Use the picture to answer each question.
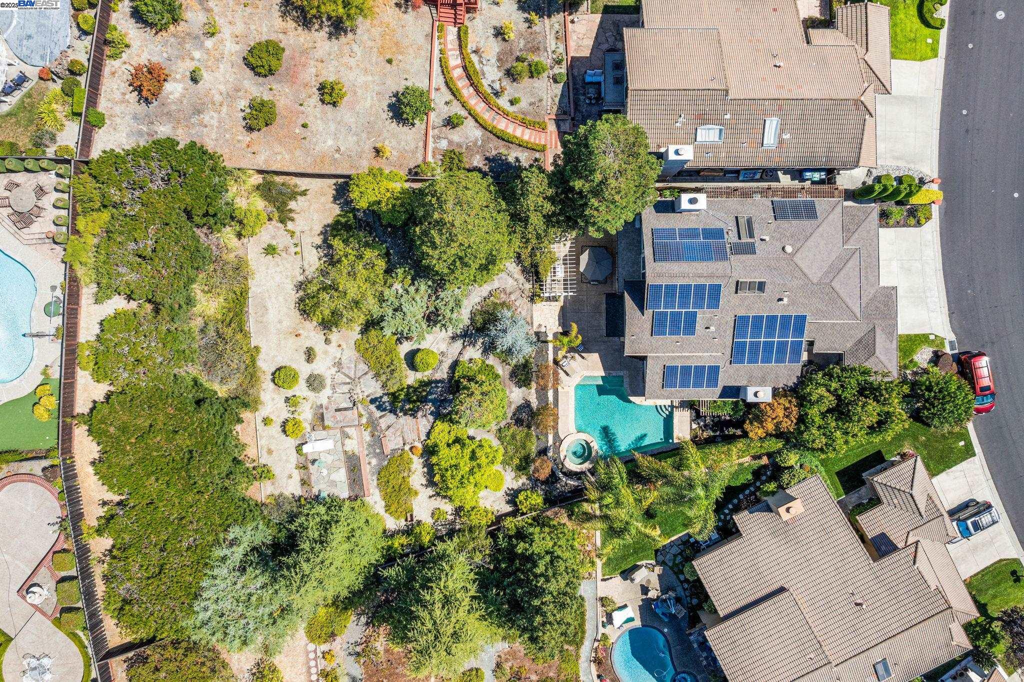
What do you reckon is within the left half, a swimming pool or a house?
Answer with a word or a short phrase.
swimming pool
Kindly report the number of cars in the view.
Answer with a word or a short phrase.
2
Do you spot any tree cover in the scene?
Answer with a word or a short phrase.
Yes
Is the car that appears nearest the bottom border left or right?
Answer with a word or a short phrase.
right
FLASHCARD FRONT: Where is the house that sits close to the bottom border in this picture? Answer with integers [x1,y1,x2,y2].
[687,454,981,682]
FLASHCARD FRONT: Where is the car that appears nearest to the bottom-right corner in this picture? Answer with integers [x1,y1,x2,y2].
[947,499,1009,547]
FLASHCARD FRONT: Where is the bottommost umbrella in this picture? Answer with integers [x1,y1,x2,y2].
[612,600,634,625]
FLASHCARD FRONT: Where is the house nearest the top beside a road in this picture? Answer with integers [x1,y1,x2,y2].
[620,0,893,182]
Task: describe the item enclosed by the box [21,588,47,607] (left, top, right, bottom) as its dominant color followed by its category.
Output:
white fountain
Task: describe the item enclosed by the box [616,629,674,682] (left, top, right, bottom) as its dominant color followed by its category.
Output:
blue swimming pool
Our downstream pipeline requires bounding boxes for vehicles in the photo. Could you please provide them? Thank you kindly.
[960,349,1001,416]
[947,499,1009,547]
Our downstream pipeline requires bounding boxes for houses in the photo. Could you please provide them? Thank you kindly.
[620,0,893,182]
[604,194,900,402]
[687,454,981,682]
